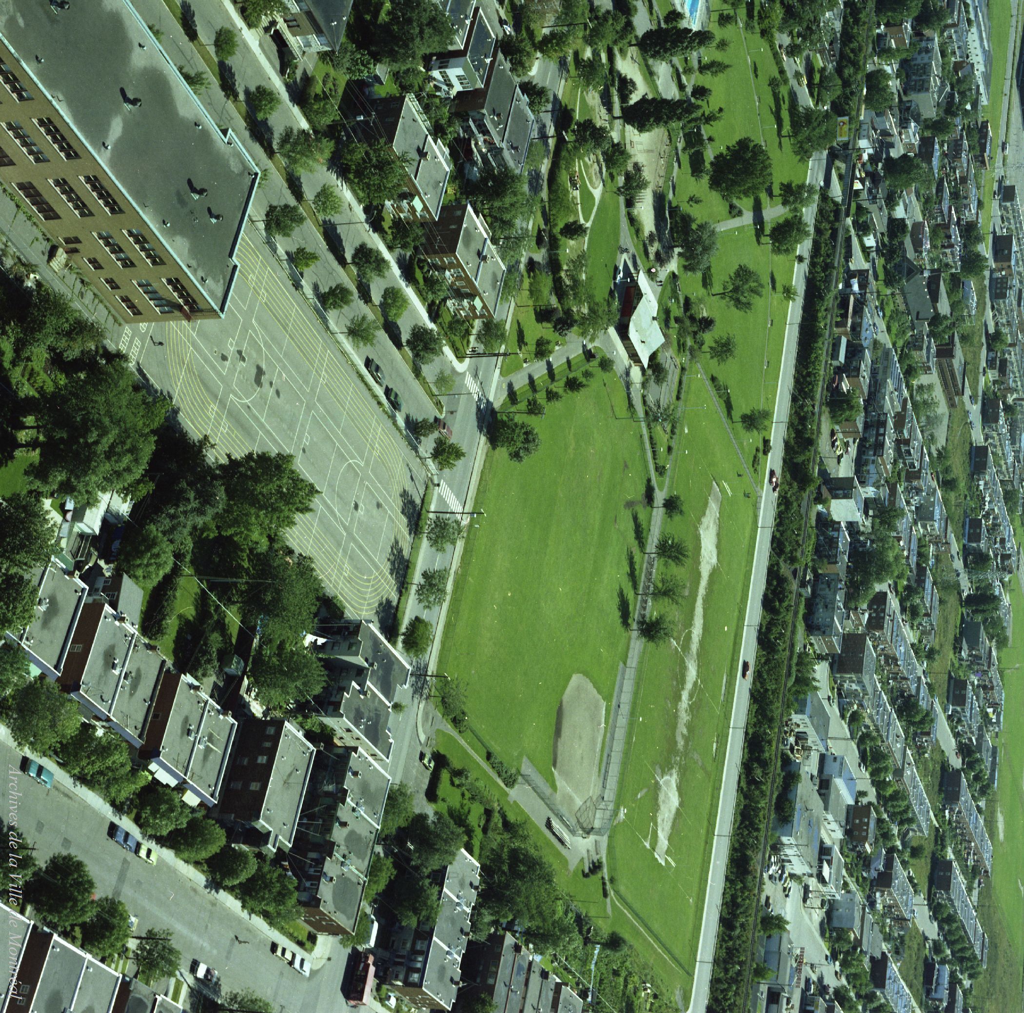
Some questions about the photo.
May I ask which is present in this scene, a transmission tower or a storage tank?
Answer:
transmission tower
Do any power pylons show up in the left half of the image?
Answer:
No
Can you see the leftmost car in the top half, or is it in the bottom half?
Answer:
bottom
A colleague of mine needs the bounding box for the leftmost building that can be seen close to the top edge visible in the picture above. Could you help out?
[0,0,259,328]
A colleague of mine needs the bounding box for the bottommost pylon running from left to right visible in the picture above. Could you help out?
[954,566,1019,591]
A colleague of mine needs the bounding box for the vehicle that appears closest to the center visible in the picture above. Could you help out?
[439,416,455,442]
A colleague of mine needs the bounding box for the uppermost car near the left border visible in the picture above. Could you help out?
[25,758,58,791]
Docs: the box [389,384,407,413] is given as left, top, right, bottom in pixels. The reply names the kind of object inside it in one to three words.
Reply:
car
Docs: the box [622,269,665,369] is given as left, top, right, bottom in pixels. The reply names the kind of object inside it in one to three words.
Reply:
building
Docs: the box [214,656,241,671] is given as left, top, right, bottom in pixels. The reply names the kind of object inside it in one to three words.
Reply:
shed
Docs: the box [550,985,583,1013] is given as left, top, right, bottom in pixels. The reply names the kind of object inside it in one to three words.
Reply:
house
